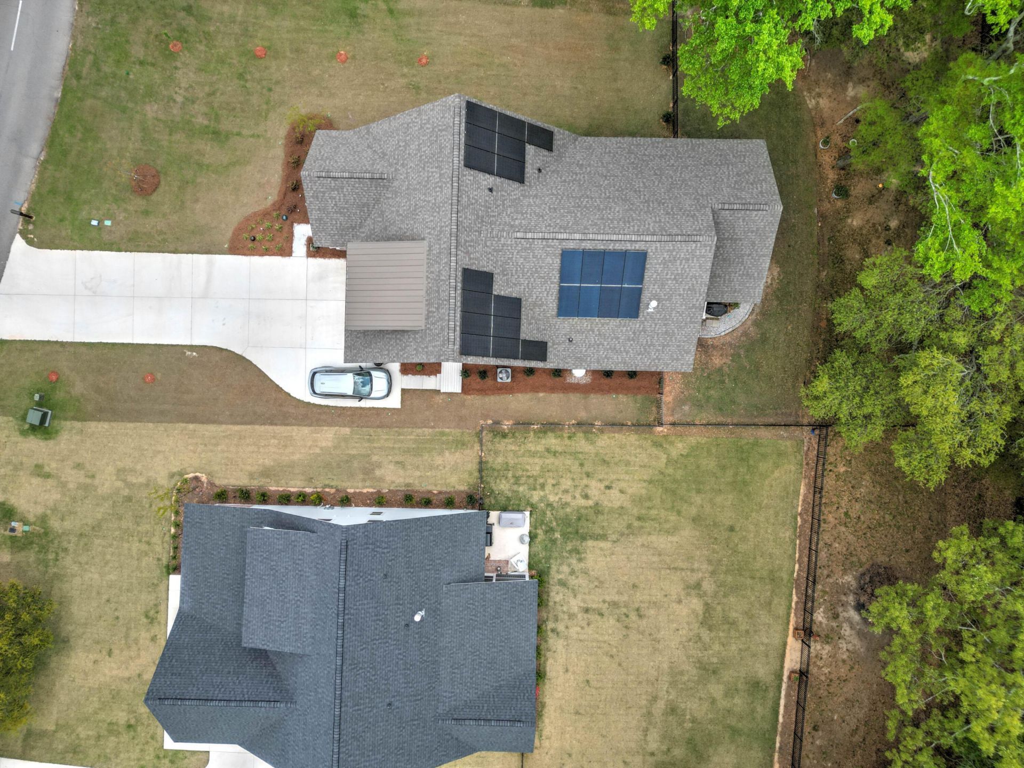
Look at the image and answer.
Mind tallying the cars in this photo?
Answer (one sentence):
There is 1 car in the image.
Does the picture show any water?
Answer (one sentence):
No, there's no water in this view.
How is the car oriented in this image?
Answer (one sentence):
Seen from above, the car lies from left to right.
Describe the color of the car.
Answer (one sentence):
From above, the car appears white.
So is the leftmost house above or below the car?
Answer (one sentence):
The leftmost house is located below the car in this view.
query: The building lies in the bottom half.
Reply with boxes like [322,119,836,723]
[143,502,539,768]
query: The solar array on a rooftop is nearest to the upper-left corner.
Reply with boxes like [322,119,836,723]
[467,101,556,184]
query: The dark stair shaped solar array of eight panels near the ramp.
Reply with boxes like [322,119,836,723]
[463,268,550,361]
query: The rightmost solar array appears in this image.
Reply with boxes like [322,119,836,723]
[558,251,647,322]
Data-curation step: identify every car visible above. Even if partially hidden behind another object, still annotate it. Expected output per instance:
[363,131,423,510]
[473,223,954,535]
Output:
[308,363,394,403]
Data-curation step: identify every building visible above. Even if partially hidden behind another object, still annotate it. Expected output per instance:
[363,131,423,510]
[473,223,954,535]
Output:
[143,502,539,768]
[301,93,784,371]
